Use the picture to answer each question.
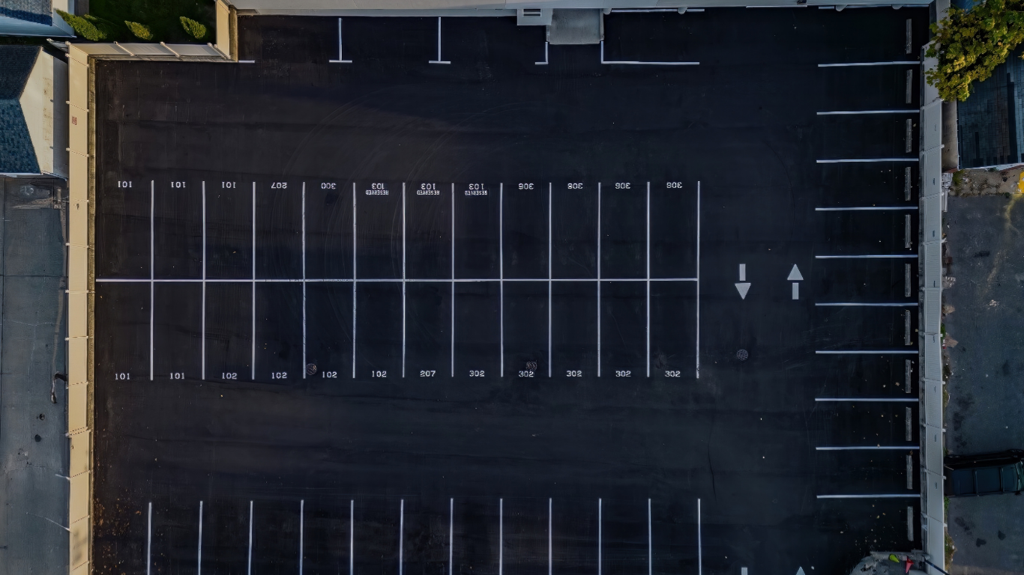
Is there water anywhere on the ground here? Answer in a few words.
No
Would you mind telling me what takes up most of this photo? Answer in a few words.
paved ground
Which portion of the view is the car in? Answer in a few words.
bottom right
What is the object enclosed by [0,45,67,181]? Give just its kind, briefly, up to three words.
house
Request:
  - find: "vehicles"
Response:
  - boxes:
[945,452,1024,497]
